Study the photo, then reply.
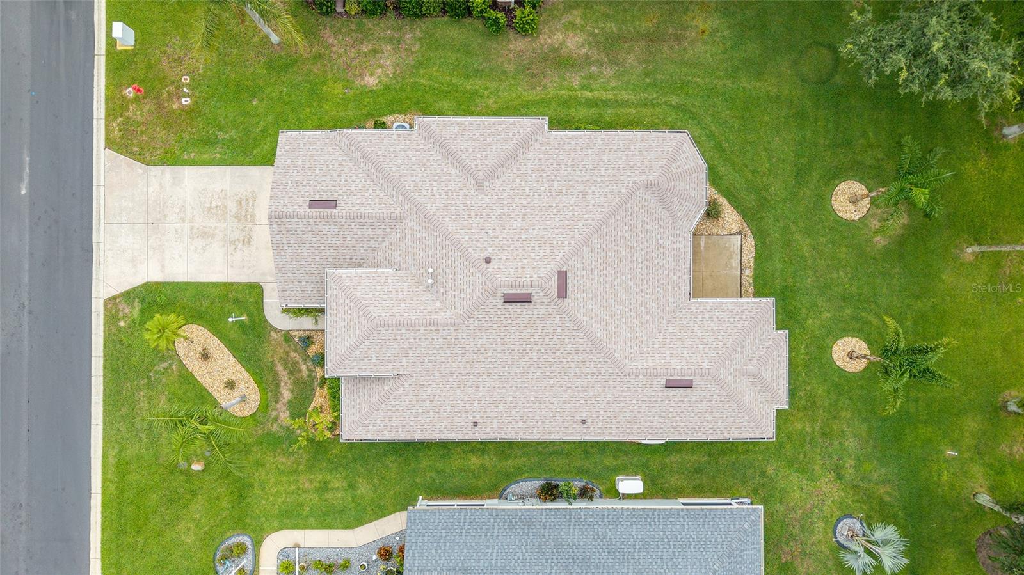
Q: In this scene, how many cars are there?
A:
0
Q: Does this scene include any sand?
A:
No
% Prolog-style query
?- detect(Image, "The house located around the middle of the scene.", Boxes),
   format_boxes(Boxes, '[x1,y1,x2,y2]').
[268,115,788,441]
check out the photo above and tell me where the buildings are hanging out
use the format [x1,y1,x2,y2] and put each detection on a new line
[404,491,763,575]
[268,115,788,441]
